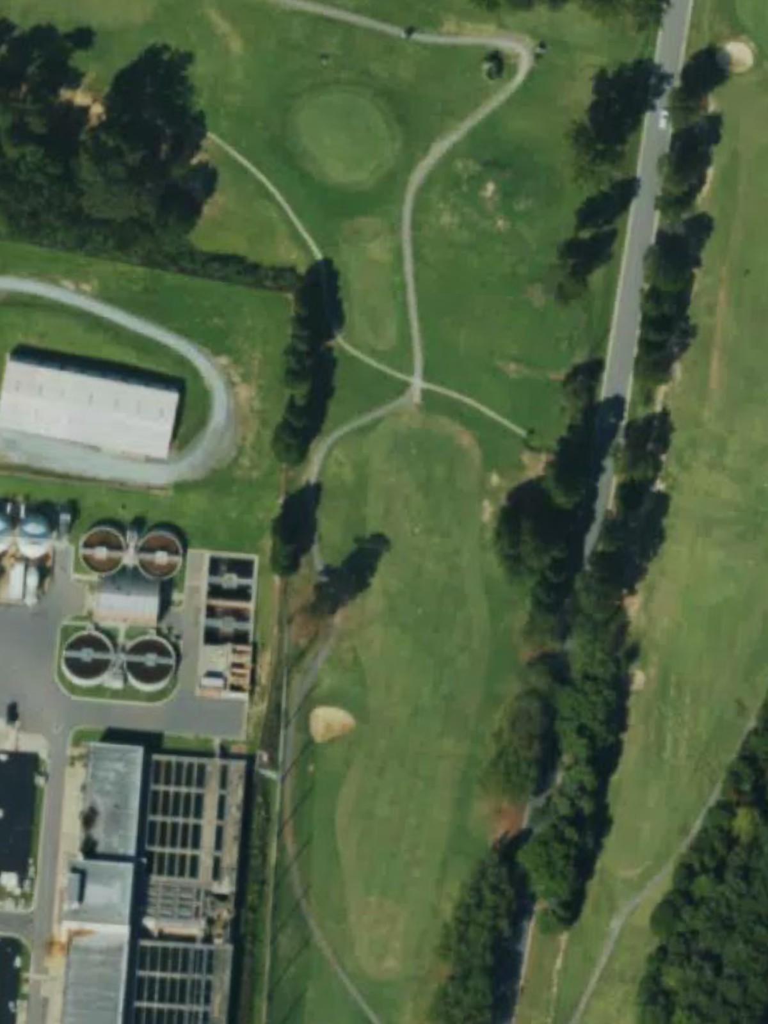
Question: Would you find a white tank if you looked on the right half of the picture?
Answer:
No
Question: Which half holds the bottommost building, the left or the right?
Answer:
left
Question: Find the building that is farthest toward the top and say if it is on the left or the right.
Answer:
left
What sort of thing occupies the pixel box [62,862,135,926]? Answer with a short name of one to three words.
building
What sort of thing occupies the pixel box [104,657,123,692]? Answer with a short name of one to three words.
building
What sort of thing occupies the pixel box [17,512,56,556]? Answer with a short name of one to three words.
storage tank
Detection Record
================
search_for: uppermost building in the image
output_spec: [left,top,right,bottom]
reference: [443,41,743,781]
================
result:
[0,360,179,465]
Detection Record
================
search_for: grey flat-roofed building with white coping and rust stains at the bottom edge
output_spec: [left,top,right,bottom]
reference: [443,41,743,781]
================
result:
[59,922,129,1024]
